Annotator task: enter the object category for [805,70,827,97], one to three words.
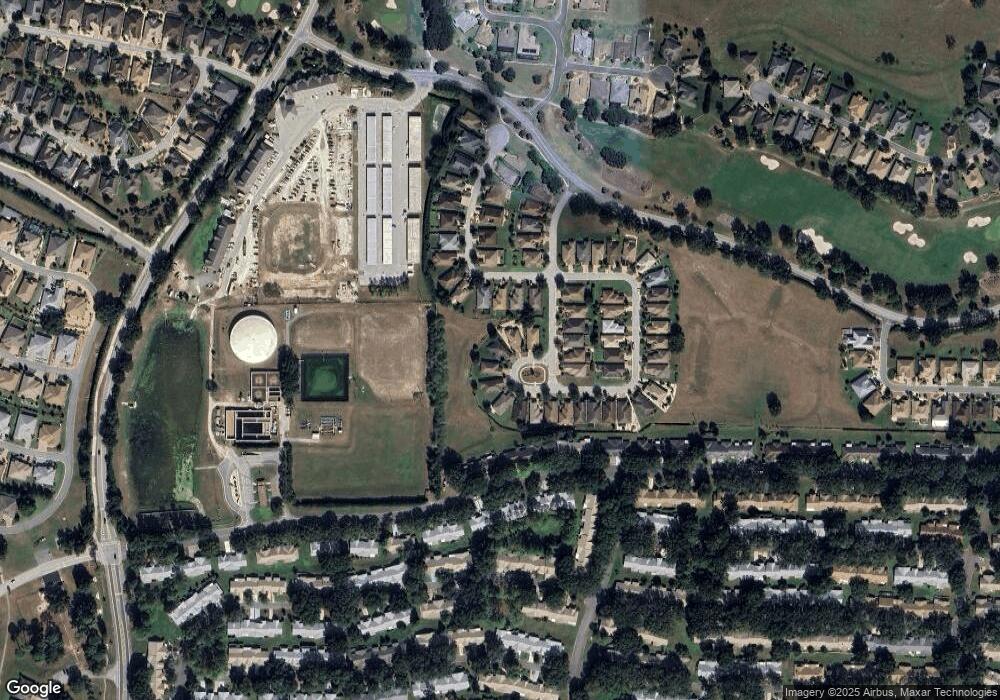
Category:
house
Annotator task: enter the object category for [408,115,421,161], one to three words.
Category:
building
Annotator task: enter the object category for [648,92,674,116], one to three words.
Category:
house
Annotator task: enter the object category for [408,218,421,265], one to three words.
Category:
building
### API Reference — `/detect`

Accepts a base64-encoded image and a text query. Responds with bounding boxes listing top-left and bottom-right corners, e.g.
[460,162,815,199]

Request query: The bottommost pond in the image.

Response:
[301,351,350,401]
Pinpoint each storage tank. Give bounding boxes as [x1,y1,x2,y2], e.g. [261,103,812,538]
[229,315,276,363]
